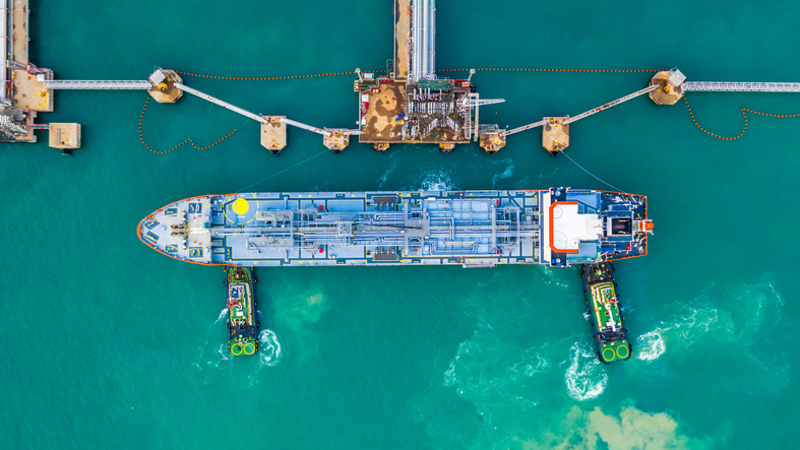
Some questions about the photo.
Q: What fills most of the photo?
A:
water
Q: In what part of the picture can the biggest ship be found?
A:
center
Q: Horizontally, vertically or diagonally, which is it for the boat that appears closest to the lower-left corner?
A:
vertically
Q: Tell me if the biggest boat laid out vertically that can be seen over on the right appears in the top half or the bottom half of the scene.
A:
bottom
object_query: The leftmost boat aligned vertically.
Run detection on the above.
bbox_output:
[225,266,259,360]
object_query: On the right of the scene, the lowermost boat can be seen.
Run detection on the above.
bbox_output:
[583,262,634,366]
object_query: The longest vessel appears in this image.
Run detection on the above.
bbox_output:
[137,186,655,267]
